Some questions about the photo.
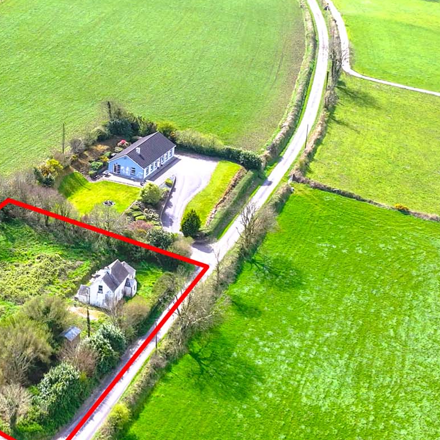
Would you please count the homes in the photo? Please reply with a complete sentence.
In total, there are 2 homes in the scene.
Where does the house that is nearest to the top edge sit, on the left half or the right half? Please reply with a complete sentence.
You can find the house that is nearest to the top edge on the left side of the picture.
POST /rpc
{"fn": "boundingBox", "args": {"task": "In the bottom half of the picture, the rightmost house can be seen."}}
[78,257,143,309]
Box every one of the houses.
[109,133,174,181]
[78,257,143,309]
